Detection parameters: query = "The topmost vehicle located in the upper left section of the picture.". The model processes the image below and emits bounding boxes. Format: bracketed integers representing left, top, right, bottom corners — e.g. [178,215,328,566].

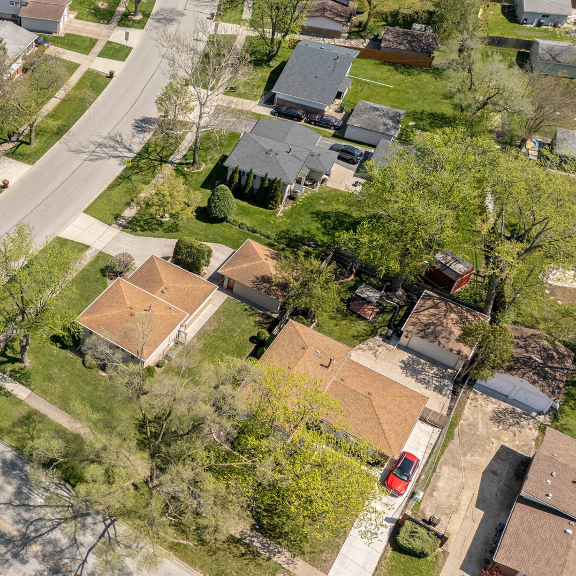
[32,32,56,49]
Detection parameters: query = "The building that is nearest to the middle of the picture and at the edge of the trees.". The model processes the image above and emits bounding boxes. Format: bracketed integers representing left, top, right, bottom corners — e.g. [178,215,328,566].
[217,238,308,313]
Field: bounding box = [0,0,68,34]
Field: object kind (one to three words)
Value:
house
